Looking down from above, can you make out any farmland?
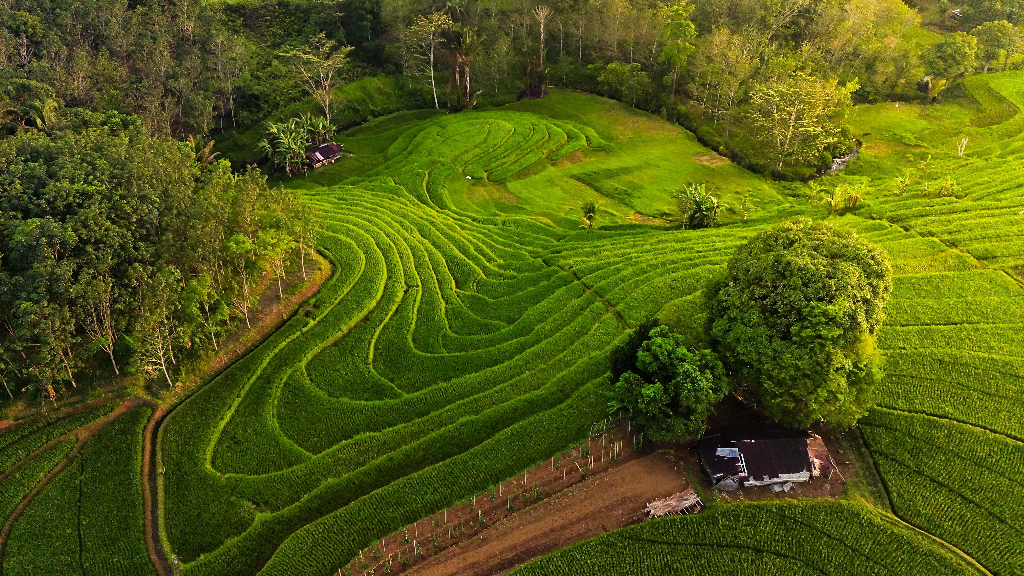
Yes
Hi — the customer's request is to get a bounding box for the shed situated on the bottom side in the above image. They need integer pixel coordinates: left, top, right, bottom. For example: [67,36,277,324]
[692,427,835,495]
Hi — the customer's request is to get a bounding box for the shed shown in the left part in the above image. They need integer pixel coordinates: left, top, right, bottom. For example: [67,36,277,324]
[306,142,344,174]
